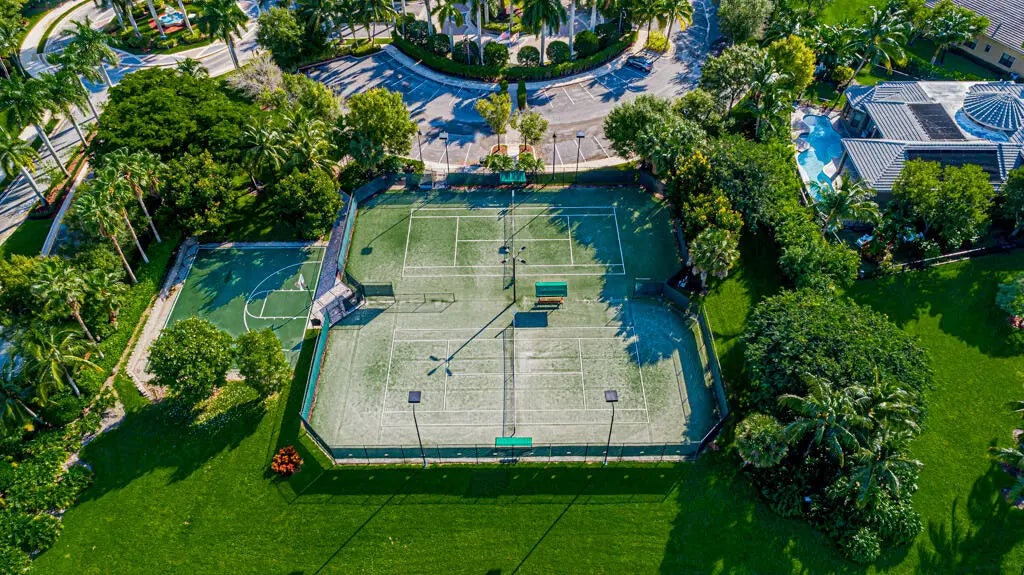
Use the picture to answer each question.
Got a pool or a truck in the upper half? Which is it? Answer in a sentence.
The one visible in the upper half is a pool.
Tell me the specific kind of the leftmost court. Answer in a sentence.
The leftmost court appears to be a basketball court.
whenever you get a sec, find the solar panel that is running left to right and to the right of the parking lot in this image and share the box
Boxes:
[915,150,1010,183]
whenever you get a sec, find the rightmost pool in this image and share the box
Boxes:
[796,114,848,205]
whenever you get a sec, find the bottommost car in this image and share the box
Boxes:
[624,53,656,71]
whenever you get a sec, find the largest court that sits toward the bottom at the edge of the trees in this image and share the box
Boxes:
[310,299,719,464]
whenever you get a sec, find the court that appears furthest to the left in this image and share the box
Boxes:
[164,246,325,357]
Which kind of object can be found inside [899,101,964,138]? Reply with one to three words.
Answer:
solar panel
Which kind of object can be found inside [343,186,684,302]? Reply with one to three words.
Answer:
tennis court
